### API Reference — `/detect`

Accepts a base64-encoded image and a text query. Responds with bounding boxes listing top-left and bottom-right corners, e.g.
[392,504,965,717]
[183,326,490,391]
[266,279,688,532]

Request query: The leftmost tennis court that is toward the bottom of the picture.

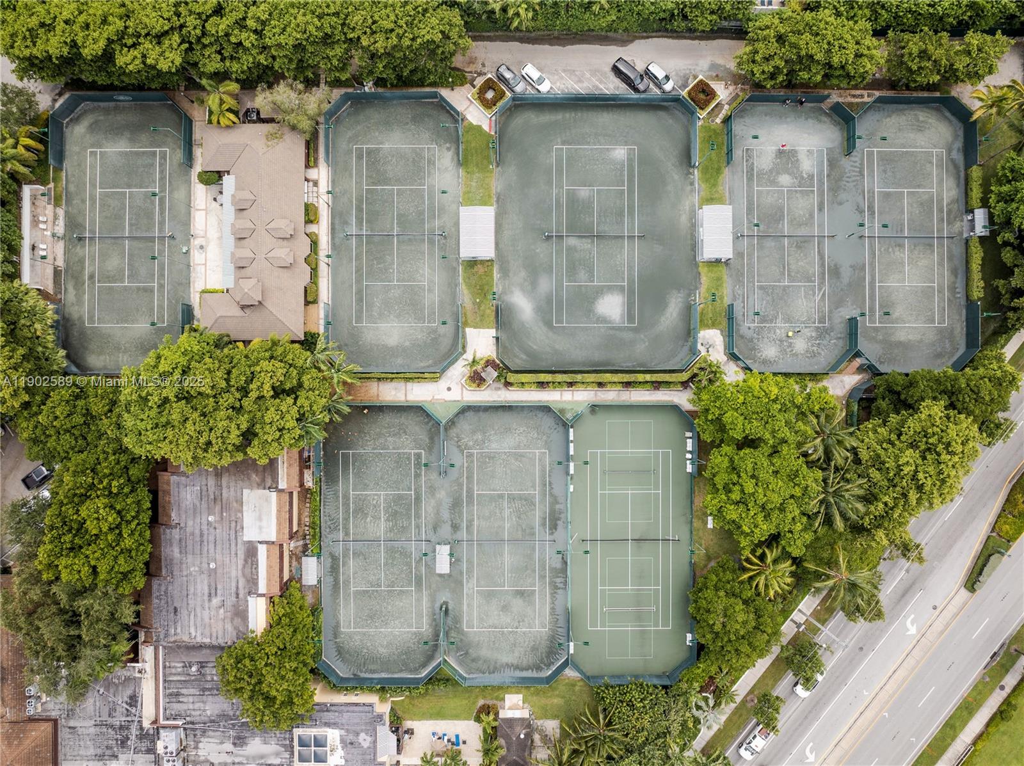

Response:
[321,404,443,676]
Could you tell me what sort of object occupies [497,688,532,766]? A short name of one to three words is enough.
building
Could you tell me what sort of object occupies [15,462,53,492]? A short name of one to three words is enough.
truck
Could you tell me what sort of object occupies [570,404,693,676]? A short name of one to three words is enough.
tennis court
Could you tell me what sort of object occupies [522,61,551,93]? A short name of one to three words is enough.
car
